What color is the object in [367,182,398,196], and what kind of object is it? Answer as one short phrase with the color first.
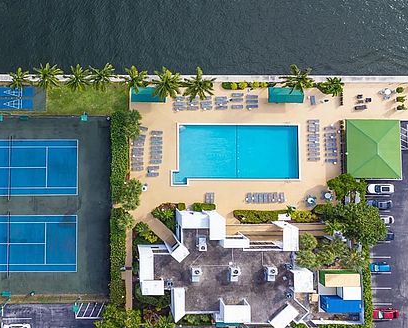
white vehicle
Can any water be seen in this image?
Yes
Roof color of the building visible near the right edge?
green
